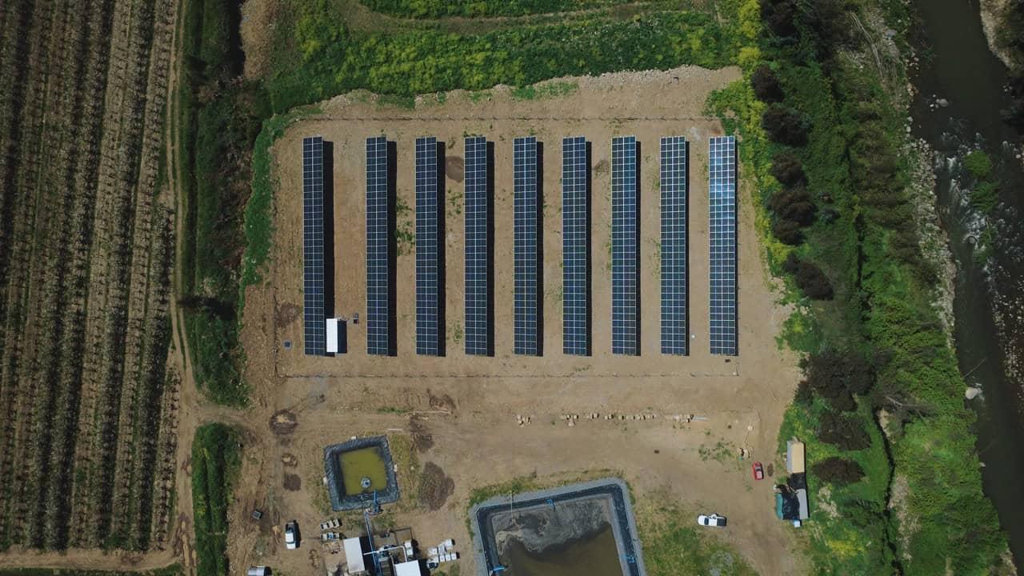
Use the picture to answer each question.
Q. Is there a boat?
No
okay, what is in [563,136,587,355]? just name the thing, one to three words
solar array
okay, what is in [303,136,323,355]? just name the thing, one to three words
solar array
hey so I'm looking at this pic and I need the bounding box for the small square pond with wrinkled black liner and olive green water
[324,435,400,510]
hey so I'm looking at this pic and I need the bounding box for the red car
[751,461,763,481]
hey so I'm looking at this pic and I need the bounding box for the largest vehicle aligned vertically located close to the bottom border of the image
[285,520,298,550]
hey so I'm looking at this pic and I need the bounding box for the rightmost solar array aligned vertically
[709,136,736,355]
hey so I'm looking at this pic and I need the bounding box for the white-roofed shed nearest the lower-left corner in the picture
[343,537,365,573]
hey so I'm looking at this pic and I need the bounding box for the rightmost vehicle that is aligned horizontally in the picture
[697,511,727,527]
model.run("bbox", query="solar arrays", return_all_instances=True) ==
[303,136,323,355]
[660,136,686,355]
[709,136,736,355]
[514,136,537,355]
[465,136,487,355]
[612,136,636,355]
[416,136,437,355]
[366,136,387,355]
[563,136,587,355]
